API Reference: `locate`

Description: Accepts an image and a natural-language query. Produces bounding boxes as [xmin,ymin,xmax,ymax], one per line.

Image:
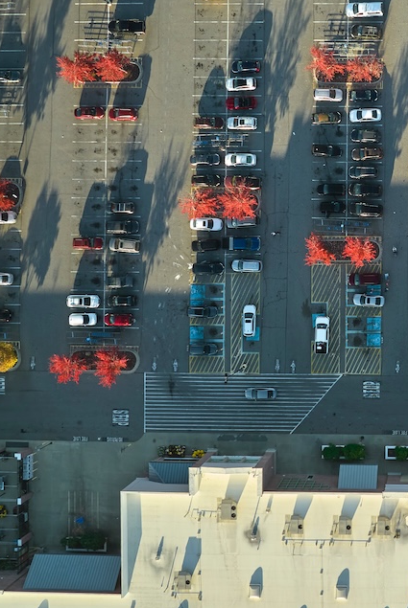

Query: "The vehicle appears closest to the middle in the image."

[184,305,221,320]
